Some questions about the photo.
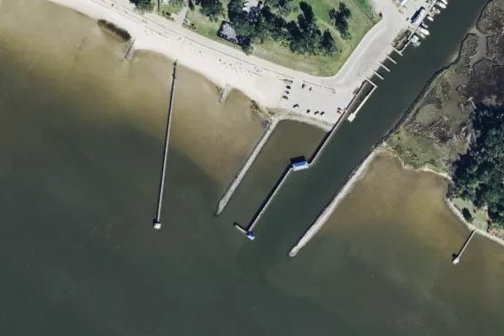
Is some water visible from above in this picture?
Yes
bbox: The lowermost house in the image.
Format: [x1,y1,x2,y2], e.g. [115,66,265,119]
[217,19,240,43]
